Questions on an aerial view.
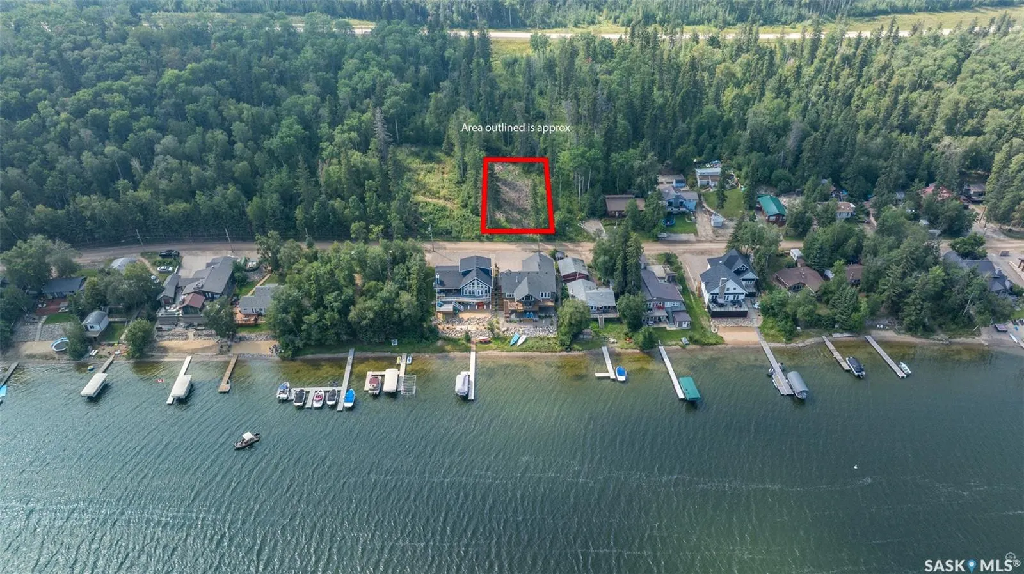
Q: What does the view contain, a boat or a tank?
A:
boat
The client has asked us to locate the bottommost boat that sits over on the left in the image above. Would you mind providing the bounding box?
[232,431,266,450]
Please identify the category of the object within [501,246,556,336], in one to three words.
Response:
house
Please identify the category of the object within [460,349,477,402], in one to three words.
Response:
pier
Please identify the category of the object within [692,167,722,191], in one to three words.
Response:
building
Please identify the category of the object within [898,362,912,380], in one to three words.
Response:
boat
